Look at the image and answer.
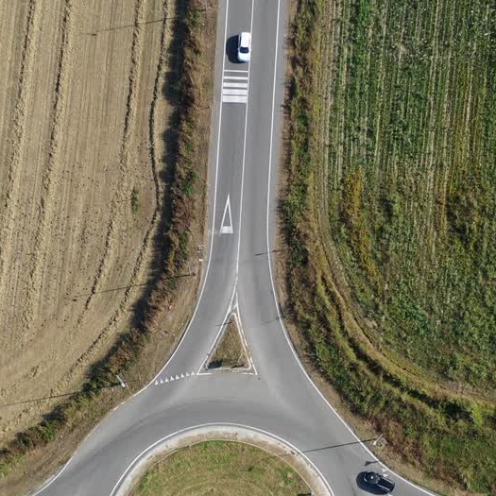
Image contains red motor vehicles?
No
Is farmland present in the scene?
Yes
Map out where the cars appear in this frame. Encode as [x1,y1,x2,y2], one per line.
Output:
[361,468,396,492]
[236,32,252,61]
